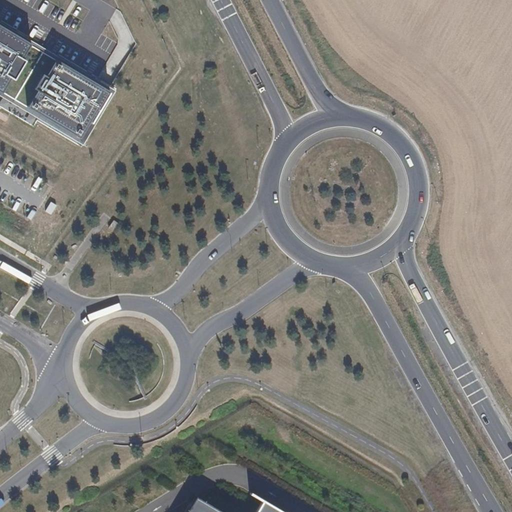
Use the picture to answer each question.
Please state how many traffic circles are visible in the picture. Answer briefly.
2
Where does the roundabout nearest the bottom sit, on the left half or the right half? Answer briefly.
left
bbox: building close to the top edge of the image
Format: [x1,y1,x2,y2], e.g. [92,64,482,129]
[0,26,118,149]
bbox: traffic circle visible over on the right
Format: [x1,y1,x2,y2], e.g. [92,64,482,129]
[258,106,430,278]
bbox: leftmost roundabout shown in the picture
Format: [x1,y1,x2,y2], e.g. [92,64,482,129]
[54,294,198,436]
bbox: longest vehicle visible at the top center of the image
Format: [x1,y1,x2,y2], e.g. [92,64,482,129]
[248,69,266,93]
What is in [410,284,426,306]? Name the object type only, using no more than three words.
vehicle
